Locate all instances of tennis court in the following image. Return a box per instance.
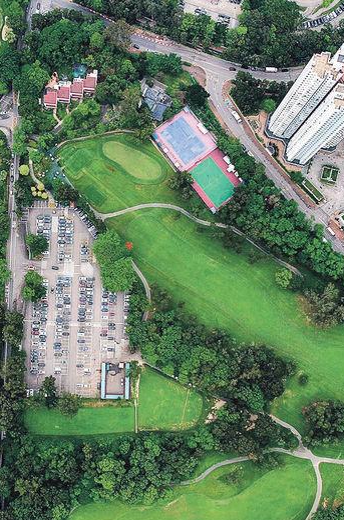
[183,147,243,215]
[152,105,219,172]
